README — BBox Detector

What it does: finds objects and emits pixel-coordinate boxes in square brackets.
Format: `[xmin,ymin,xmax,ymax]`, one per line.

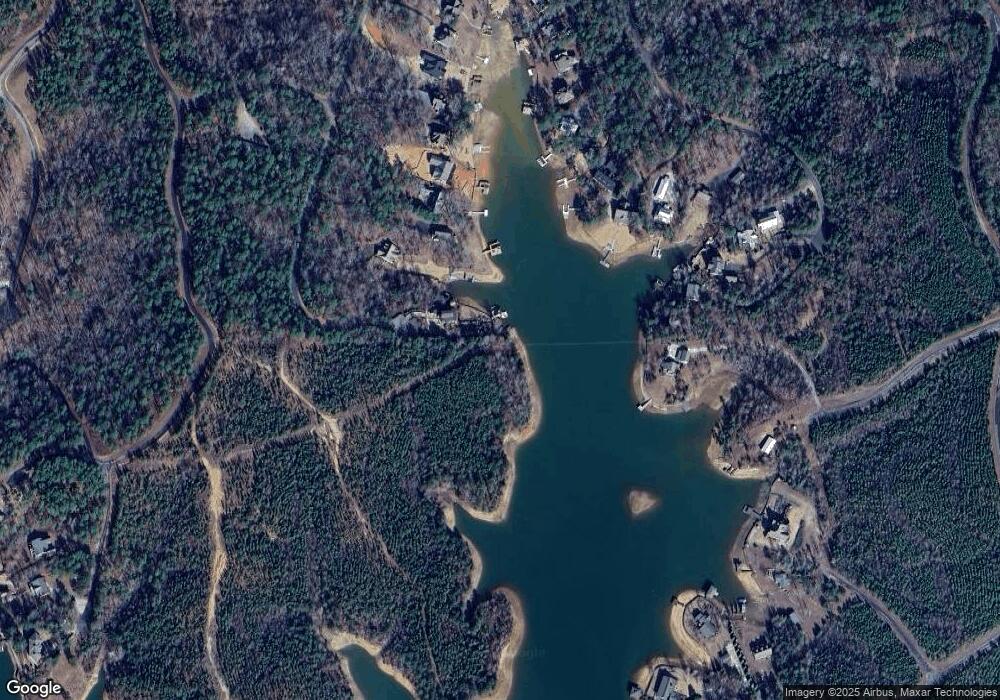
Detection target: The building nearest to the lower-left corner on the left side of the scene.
[24,638,45,667]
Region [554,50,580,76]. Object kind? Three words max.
house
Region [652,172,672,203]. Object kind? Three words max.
barn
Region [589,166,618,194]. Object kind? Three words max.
house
